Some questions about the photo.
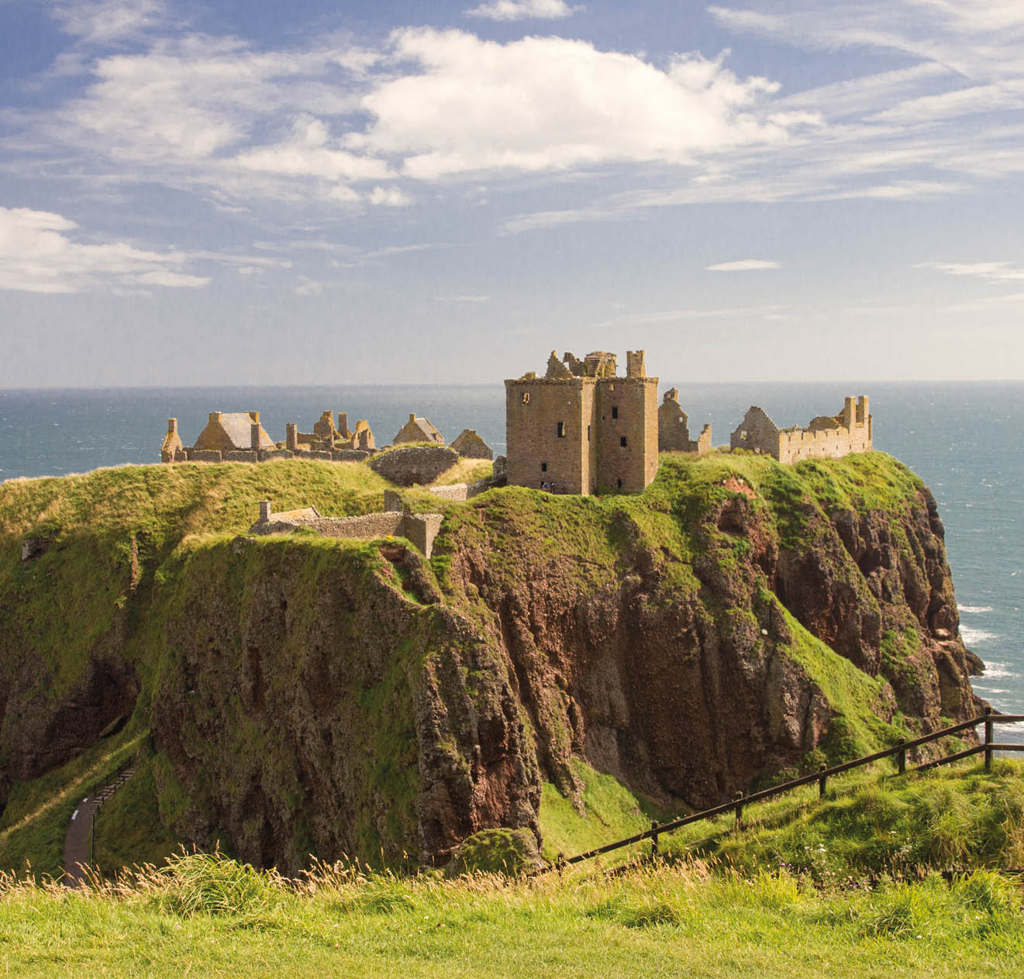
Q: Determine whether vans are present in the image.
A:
No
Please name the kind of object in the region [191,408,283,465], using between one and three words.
house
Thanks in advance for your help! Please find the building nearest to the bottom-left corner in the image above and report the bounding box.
[249,500,324,540]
